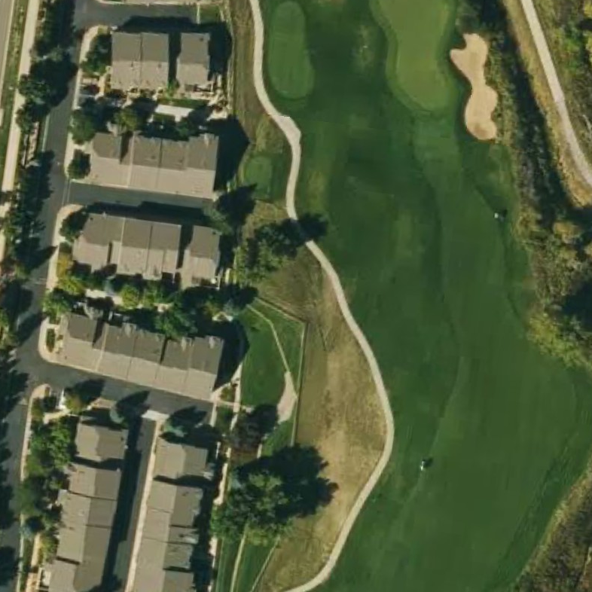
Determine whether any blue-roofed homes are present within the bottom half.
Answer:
No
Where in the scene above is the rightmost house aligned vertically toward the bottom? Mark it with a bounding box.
[132,437,209,592]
